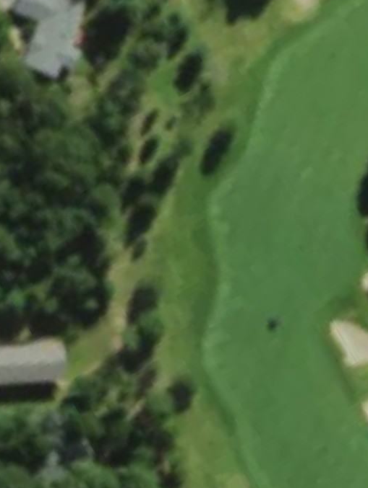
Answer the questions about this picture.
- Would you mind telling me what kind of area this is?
golf course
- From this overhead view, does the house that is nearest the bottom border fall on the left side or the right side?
left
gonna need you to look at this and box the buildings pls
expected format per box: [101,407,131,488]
[0,338,68,385]
[11,0,90,81]
[36,422,91,476]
